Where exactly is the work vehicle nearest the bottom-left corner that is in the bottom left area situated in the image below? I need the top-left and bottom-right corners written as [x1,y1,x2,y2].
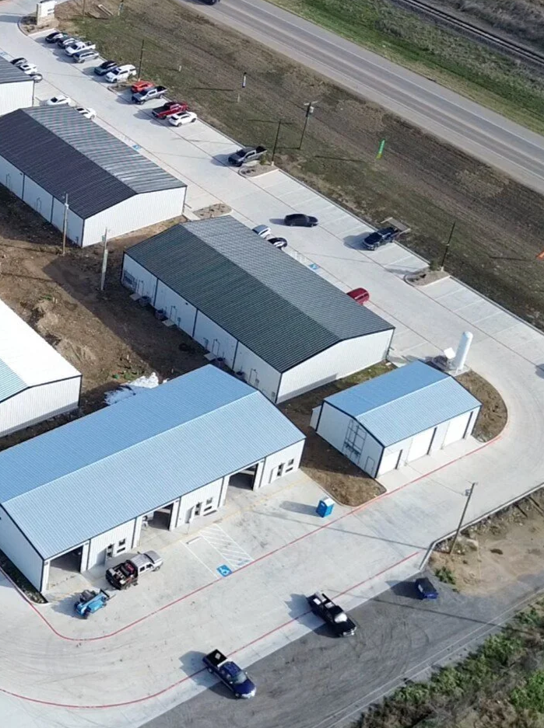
[72,585,120,620]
